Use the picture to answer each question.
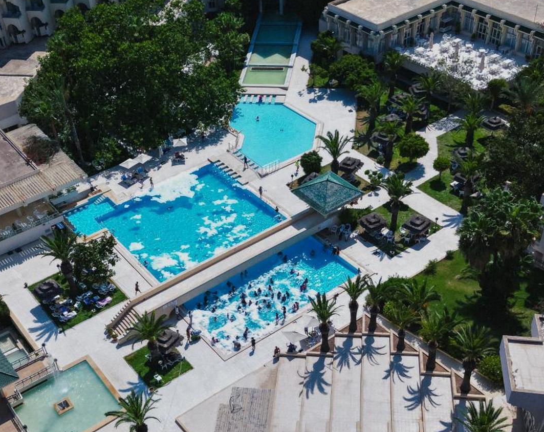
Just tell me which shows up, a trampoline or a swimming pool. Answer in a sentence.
Of the two, only a swimming pool appears.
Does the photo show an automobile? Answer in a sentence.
No, there isn't any automobile down there.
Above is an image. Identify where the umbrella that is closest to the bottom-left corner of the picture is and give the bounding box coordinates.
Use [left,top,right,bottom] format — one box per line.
[36,278,63,301]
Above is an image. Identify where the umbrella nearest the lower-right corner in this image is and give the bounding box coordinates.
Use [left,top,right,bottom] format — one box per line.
[401,216,434,240]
